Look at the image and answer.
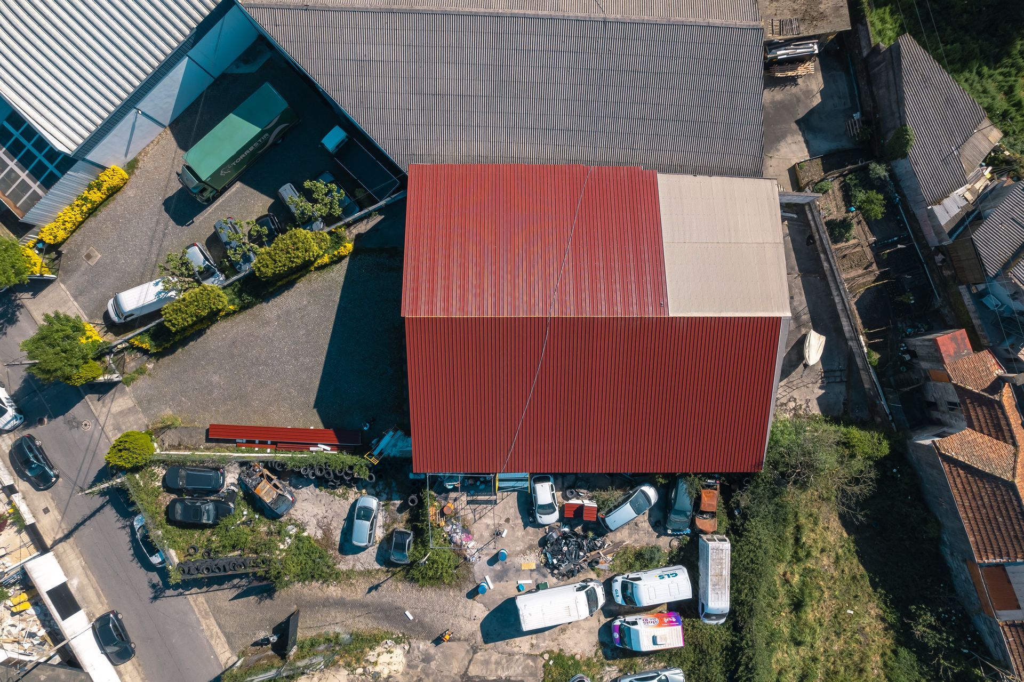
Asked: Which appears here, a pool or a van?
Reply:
van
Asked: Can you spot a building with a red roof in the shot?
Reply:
Yes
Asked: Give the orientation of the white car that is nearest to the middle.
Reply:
from top to bottom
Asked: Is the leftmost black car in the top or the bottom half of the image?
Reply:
bottom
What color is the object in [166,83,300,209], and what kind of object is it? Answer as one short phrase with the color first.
green truck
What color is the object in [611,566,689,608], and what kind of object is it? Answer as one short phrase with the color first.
white van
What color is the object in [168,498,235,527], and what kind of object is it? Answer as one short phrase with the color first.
black car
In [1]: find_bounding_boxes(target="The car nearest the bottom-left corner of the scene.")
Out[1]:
[92,610,135,664]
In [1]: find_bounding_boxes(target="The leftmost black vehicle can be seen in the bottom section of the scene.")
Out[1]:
[10,432,59,491]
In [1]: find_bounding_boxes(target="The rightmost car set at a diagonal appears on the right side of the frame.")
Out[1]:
[599,482,658,533]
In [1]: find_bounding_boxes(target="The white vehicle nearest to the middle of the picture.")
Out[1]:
[531,473,560,527]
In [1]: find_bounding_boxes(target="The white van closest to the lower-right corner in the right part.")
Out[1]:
[696,537,731,625]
